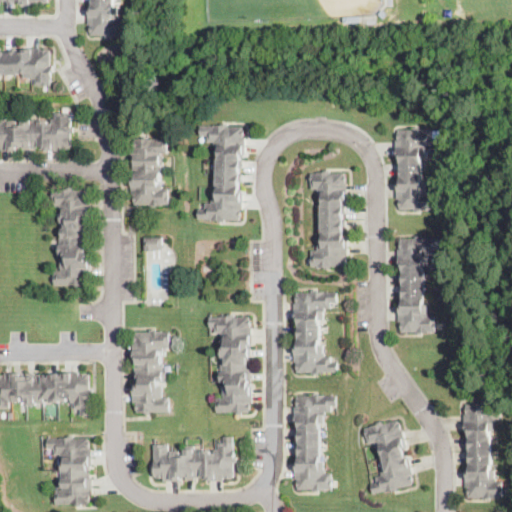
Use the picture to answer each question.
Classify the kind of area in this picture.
residential area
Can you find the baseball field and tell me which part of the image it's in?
top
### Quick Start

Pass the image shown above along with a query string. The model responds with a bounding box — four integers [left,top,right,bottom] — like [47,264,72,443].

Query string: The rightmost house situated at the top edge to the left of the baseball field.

[84,0,120,36]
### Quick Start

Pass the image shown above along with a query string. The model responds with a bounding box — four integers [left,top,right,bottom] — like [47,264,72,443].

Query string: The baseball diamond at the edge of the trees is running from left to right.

[208,0,404,28]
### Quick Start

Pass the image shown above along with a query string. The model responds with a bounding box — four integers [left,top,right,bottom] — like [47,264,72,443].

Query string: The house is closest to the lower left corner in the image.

[44,437,92,506]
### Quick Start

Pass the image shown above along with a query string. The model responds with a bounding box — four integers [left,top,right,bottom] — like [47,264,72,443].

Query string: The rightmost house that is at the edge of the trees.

[462,404,500,500]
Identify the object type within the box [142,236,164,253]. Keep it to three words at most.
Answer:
building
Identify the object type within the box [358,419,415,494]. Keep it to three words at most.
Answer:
house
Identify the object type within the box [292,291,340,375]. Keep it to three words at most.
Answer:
house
